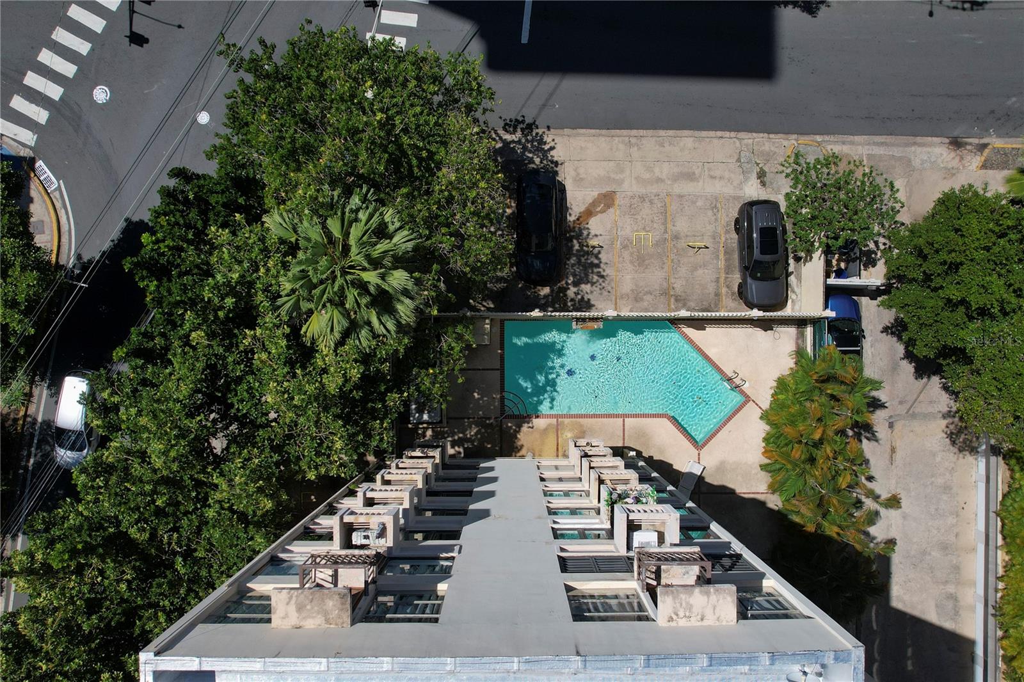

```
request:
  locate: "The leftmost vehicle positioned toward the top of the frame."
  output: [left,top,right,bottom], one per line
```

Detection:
[516,173,567,283]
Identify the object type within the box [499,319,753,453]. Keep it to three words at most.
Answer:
swimming pool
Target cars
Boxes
[516,173,567,283]
[822,295,872,368]
[47,371,106,468]
[733,200,792,311]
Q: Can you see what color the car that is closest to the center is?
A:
black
